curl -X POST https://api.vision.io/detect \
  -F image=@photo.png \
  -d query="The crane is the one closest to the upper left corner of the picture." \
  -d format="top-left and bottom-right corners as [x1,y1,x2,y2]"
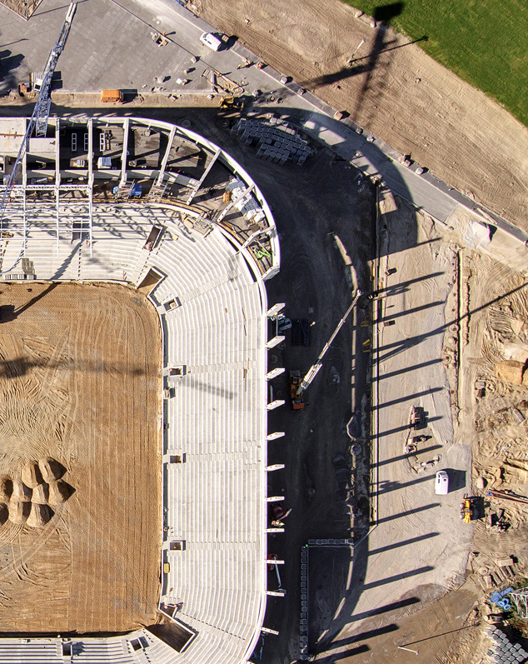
[0,1,77,213]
